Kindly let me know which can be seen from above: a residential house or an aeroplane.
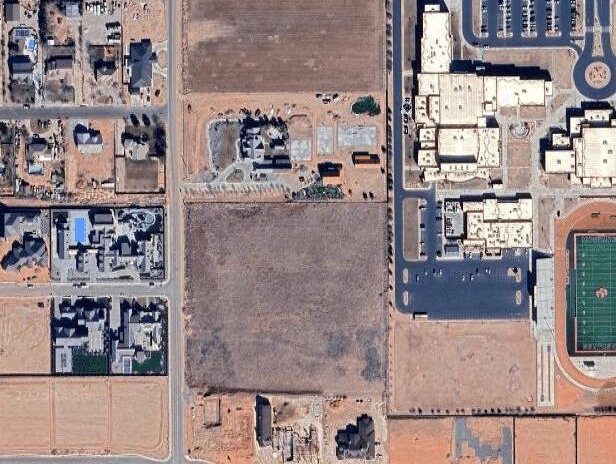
residential house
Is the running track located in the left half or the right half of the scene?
right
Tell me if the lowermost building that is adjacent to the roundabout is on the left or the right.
right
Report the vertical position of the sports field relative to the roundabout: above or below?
below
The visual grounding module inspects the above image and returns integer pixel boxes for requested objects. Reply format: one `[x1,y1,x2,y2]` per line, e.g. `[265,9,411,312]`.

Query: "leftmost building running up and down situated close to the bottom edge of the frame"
[256,396,271,447]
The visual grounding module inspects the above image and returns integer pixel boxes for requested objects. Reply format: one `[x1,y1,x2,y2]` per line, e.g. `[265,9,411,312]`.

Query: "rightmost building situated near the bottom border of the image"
[337,418,375,461]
